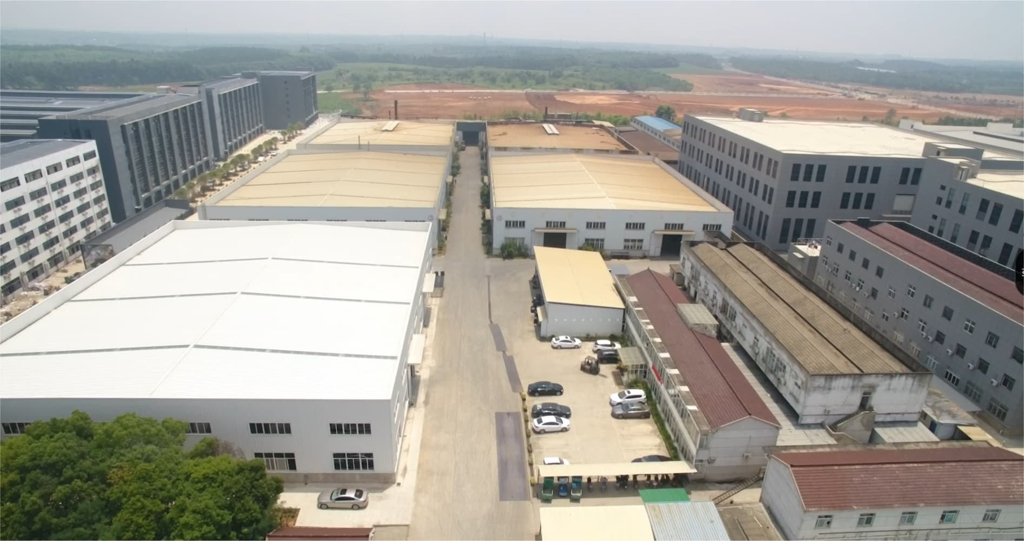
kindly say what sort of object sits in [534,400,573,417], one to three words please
car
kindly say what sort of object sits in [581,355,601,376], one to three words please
work vehicle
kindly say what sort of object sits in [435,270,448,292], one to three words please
vehicle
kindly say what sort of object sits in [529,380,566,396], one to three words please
car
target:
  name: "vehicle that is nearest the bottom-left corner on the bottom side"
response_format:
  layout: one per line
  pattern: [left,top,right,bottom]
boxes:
[316,492,368,515]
